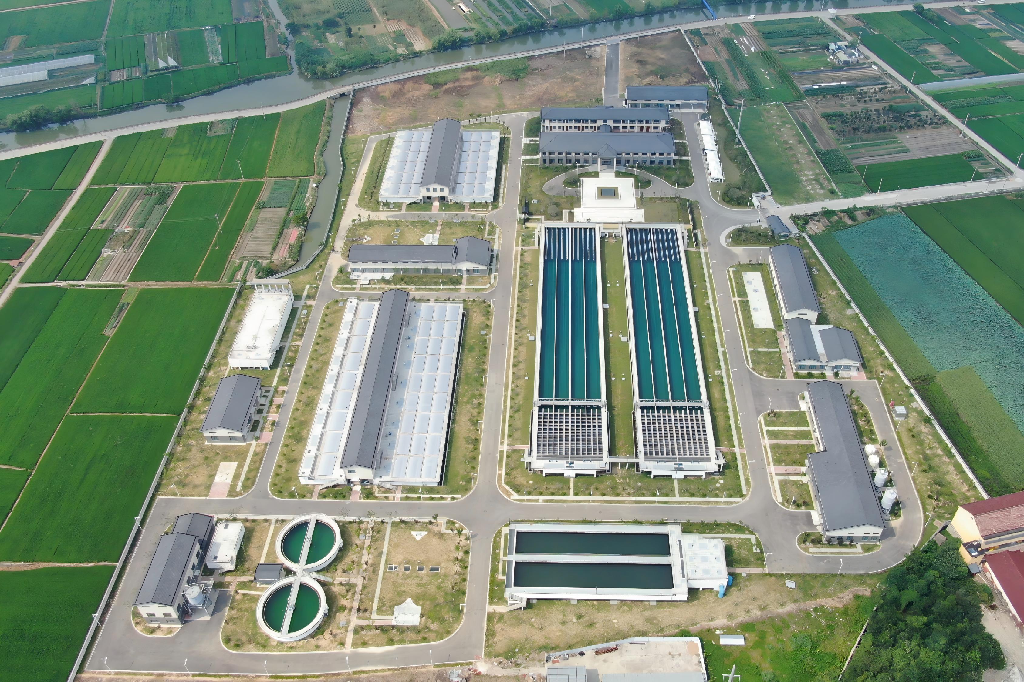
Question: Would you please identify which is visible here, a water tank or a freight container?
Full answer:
Looking from above, you can make out a water tank.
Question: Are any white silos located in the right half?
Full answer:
Yes, I can see a white silo in the right half.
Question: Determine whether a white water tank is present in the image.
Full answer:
Yes, a white water tank is visible in the scene.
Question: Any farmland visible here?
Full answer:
Yes, there's farmland in this view.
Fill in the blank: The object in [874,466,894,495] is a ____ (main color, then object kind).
white silo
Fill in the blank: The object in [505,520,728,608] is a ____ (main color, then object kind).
white water tank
